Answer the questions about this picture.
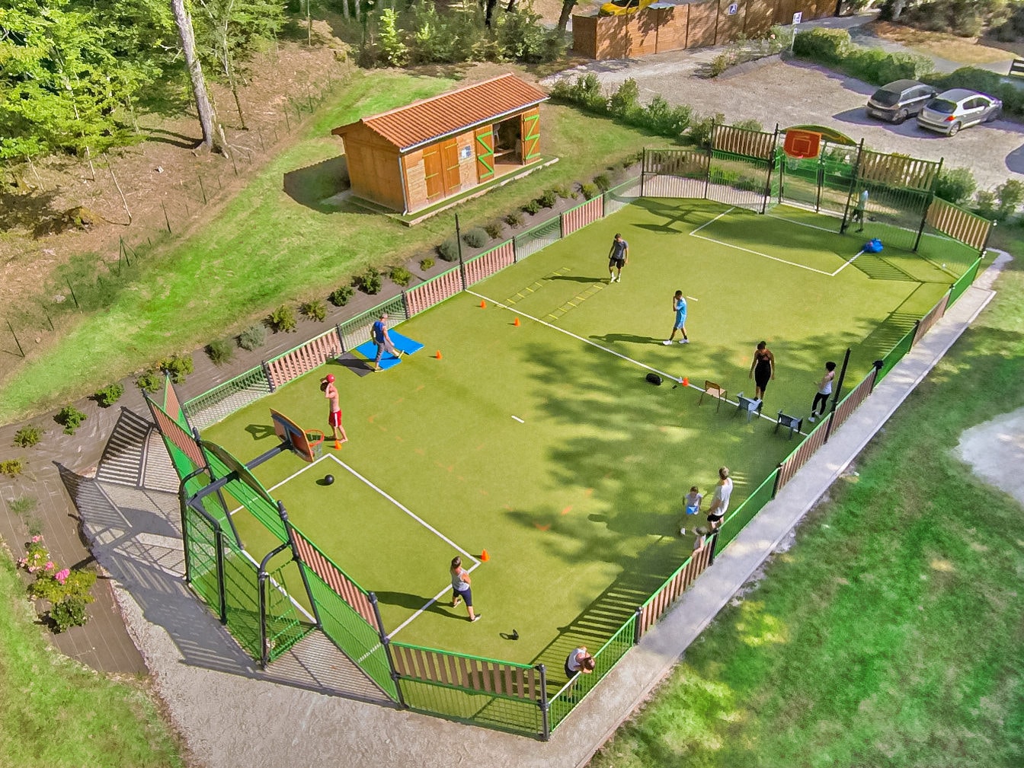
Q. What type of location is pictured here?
sports ground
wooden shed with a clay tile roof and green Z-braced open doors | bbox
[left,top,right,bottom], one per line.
[330,70,553,214]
